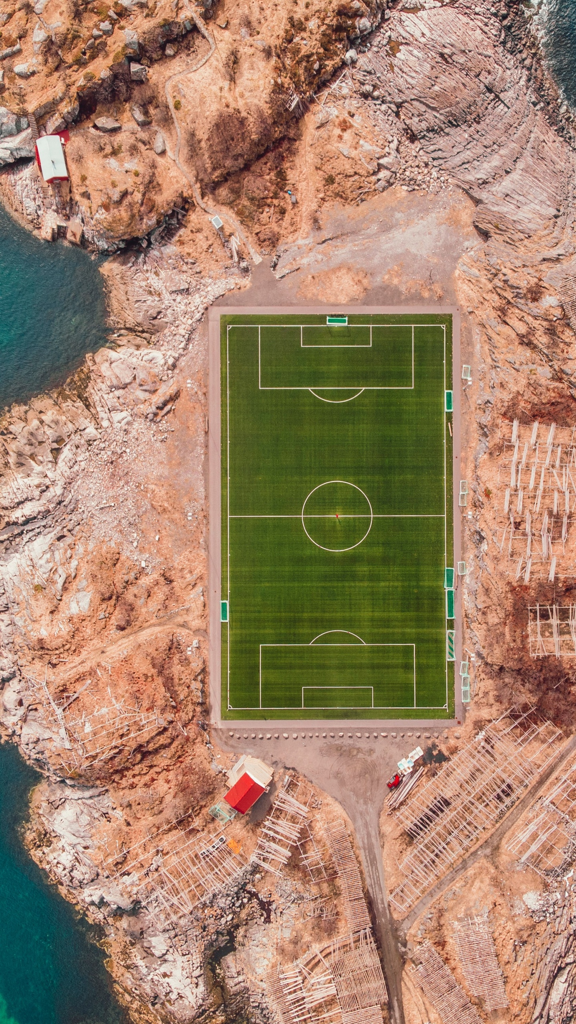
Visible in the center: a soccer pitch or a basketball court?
soccer pitch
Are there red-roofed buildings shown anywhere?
Yes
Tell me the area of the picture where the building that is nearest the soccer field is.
bottom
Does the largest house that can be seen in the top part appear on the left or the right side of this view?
left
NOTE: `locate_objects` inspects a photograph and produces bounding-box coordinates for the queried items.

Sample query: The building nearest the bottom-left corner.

[224,754,275,814]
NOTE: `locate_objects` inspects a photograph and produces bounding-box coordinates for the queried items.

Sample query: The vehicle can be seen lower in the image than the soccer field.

[386,773,401,788]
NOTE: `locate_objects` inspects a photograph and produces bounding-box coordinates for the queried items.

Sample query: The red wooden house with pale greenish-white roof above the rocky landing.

[35,134,70,183]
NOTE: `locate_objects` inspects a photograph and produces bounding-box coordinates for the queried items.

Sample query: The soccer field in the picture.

[209,306,462,728]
